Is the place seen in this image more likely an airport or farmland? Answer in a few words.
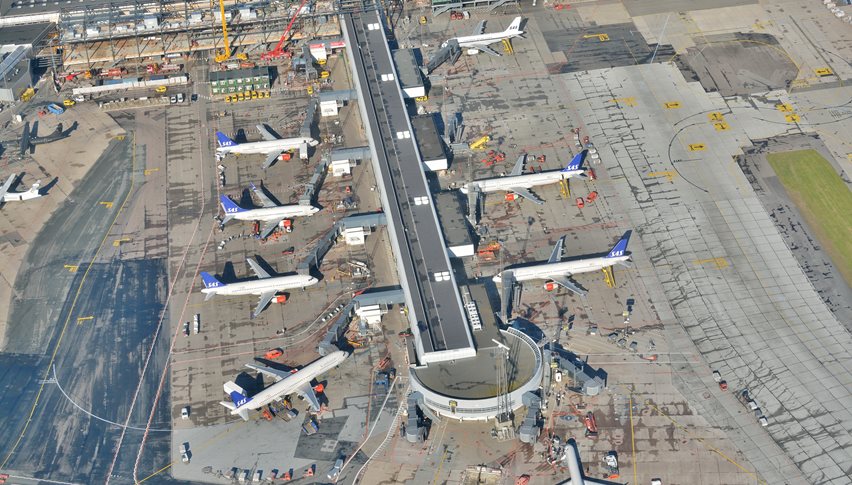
airport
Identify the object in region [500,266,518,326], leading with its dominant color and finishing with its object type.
gray jet bridge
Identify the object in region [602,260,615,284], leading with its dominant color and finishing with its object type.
yellow vehicle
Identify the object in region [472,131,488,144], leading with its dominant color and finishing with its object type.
yellow vehicle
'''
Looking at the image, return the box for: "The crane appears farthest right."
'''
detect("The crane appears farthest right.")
[261,0,307,64]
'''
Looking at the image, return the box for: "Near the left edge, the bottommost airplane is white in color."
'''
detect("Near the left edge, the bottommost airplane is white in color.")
[0,176,46,214]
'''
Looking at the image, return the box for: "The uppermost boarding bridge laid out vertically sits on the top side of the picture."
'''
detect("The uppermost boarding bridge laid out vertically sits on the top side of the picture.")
[300,43,319,89]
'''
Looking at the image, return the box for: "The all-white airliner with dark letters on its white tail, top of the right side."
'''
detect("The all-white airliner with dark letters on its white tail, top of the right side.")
[443,17,524,56]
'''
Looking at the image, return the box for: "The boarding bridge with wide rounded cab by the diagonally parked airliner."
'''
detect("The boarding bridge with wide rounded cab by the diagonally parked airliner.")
[317,294,364,359]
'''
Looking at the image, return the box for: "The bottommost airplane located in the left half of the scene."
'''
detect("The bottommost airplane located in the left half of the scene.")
[220,350,350,416]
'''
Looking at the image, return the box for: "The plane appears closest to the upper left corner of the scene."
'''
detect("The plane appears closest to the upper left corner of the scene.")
[0,121,68,155]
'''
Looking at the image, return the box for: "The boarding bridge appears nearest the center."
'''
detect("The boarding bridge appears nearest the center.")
[467,181,483,239]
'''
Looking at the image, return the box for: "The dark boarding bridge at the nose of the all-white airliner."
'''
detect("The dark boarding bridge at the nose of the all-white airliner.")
[422,40,461,84]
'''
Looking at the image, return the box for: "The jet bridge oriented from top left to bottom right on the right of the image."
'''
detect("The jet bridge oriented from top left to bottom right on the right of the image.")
[545,345,607,403]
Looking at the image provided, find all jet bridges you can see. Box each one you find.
[467,181,483,239]
[404,388,424,449]
[299,220,349,275]
[517,386,542,449]
[300,151,339,207]
[300,43,319,89]
[545,345,607,403]
[422,40,461,84]
[300,94,330,139]
[317,294,364,359]
[500,266,518,326]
